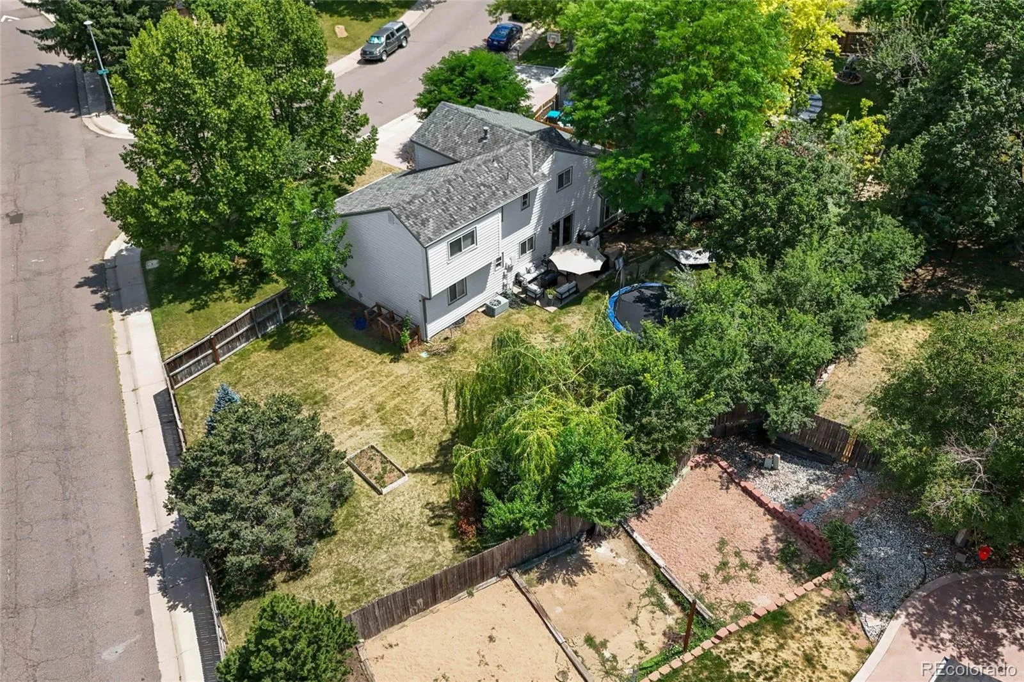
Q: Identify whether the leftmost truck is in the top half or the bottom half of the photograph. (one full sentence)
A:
It is in the top half that the leftmost truck appears.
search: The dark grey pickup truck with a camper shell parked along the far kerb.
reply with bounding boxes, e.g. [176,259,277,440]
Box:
[356,21,408,60]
